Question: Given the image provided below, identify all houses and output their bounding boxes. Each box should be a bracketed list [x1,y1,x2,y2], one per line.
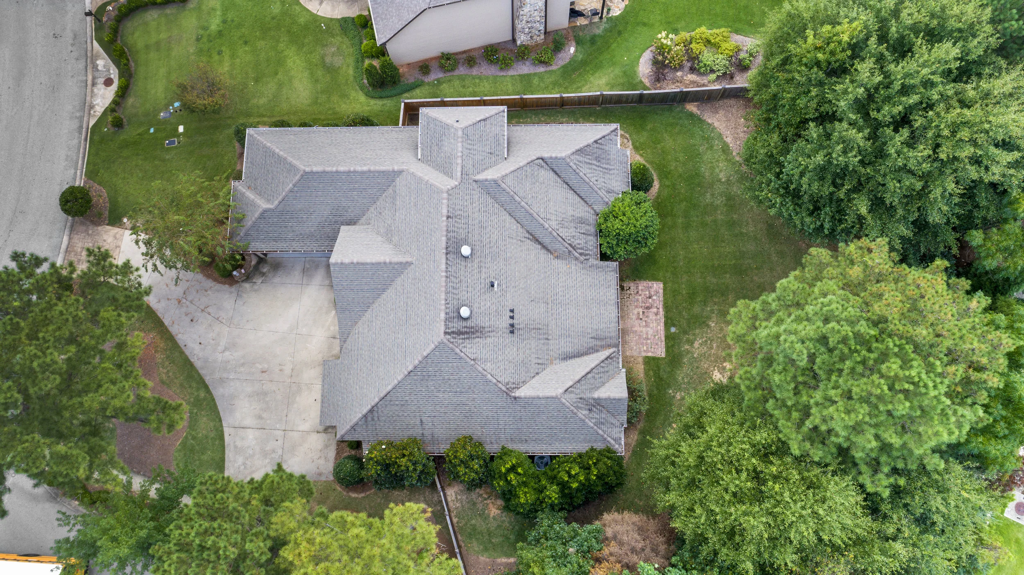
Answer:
[224,105,633,457]
[365,0,573,65]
